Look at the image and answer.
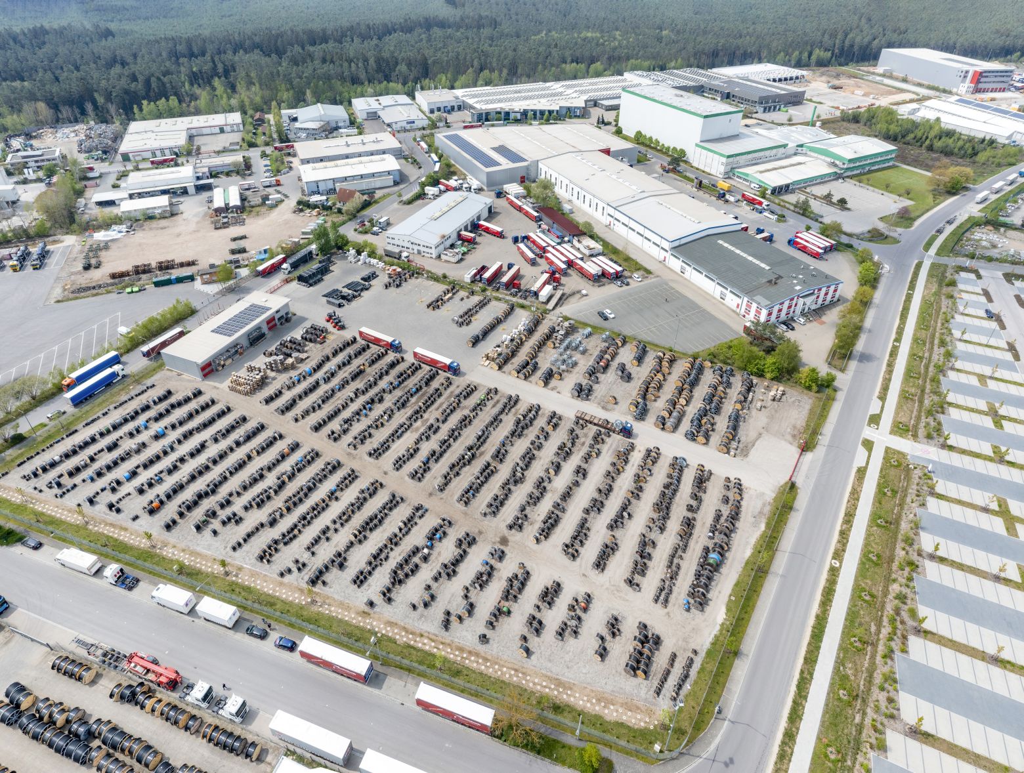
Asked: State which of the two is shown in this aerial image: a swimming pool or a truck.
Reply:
truck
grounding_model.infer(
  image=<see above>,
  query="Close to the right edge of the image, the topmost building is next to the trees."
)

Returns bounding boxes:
[876,47,1006,92]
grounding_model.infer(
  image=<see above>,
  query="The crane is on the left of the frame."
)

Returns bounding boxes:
[122,650,186,691]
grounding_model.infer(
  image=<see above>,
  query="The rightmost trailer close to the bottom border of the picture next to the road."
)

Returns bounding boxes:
[415,683,496,735]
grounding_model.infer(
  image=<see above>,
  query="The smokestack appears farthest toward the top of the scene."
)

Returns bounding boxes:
[808,97,820,126]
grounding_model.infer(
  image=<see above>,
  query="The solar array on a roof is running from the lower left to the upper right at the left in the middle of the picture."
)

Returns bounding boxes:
[208,305,267,338]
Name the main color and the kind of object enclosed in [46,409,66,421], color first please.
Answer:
gray vehicle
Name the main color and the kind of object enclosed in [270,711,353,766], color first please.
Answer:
white trailer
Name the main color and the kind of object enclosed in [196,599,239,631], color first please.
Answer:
white trailer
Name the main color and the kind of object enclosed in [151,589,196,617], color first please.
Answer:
white truck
